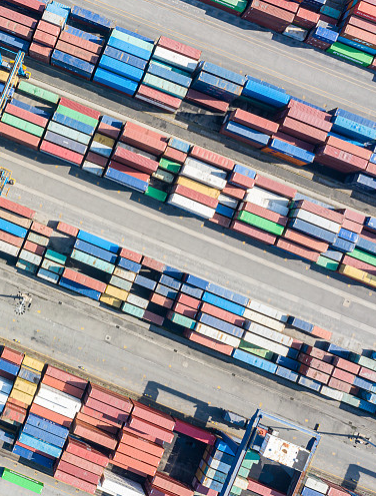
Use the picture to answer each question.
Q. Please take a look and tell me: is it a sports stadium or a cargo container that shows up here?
cargo container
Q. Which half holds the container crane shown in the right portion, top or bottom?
bottom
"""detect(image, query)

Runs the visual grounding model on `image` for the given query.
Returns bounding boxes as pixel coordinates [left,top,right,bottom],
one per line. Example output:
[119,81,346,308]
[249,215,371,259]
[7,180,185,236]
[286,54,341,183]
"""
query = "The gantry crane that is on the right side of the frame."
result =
[209,409,322,496]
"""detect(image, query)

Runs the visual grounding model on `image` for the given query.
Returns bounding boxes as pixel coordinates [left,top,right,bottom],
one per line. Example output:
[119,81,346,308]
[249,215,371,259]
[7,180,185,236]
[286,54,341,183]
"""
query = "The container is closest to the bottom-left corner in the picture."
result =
[2,467,44,494]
